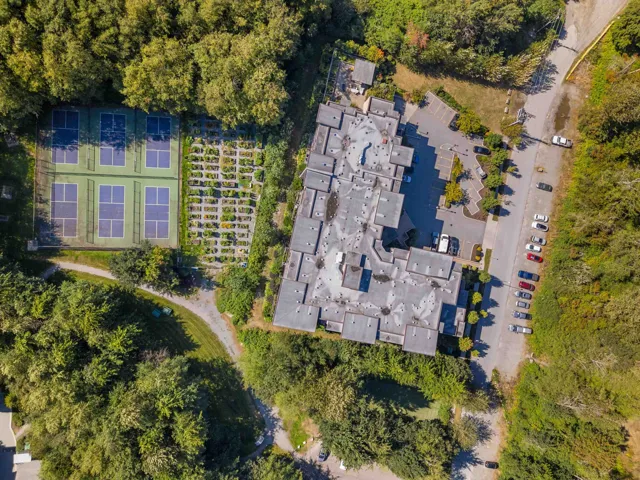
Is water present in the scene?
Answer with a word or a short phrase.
No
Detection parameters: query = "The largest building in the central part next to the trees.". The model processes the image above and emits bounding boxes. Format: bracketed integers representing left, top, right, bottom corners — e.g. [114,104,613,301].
[273,97,469,354]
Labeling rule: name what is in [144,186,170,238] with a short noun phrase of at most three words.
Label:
sports court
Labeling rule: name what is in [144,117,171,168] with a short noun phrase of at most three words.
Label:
sports court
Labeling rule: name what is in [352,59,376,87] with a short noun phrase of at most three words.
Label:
building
